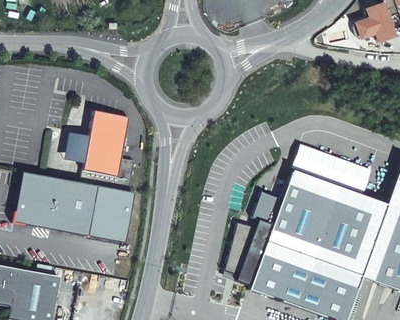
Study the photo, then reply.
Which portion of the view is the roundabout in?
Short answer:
top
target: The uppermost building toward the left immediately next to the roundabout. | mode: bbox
[84,110,128,176]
